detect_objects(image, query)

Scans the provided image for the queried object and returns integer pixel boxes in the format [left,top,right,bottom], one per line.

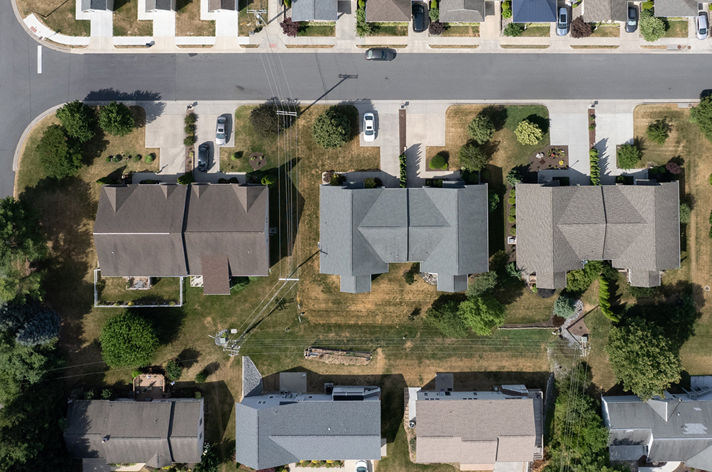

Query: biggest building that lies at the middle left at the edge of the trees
[95,184,269,295]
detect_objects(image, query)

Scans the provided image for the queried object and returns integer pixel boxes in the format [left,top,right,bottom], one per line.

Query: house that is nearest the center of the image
[319,178,488,294]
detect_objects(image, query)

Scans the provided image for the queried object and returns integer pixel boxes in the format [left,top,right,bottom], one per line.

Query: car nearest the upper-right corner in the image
[694,13,709,39]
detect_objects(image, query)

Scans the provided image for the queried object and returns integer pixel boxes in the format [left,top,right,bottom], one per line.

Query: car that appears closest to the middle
[362,111,377,142]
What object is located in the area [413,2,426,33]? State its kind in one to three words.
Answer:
vehicle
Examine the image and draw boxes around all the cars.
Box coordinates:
[413,2,426,33]
[362,111,377,142]
[197,142,211,173]
[694,13,709,39]
[214,114,229,145]
[354,461,368,472]
[365,47,395,62]
[555,5,568,37]
[624,5,639,33]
